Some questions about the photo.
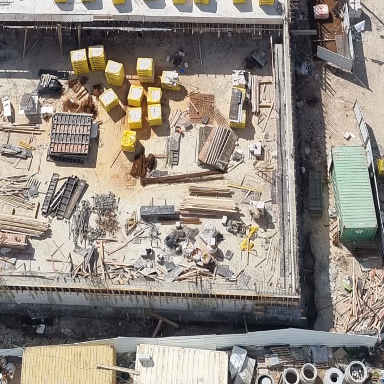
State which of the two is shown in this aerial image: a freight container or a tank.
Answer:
freight container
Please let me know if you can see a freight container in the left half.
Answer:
No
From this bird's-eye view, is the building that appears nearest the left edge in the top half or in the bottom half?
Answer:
bottom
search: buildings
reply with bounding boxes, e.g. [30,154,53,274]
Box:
[22,344,121,384]
[134,343,229,384]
